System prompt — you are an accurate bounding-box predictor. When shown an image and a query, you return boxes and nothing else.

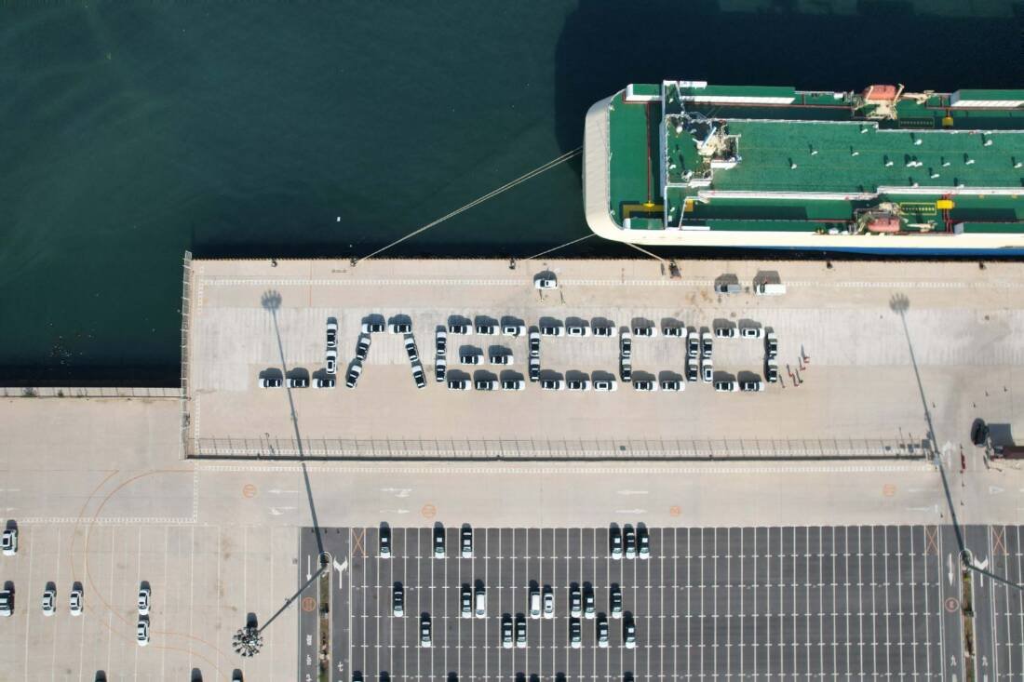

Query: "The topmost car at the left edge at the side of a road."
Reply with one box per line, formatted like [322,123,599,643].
[2,530,18,554]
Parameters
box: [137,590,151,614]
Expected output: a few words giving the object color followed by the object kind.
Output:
white car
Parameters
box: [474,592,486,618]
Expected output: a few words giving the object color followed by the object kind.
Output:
white vehicle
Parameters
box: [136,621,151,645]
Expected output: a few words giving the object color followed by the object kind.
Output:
white car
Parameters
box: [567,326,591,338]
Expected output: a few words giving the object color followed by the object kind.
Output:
white vehicle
